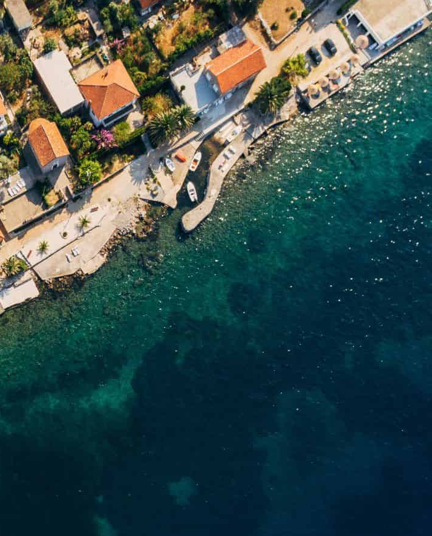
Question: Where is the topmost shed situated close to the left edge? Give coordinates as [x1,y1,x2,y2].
[5,0,33,39]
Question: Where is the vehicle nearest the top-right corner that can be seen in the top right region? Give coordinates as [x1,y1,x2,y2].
[321,39,337,58]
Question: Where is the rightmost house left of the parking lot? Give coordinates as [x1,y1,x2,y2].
[203,26,266,101]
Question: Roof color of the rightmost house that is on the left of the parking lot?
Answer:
orange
